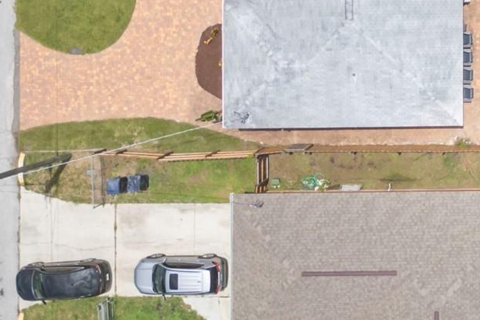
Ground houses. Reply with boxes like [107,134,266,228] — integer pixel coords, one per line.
[229,189,480,320]
[222,0,463,128]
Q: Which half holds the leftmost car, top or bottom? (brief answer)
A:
bottom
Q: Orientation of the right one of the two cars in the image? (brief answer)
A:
from left to right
